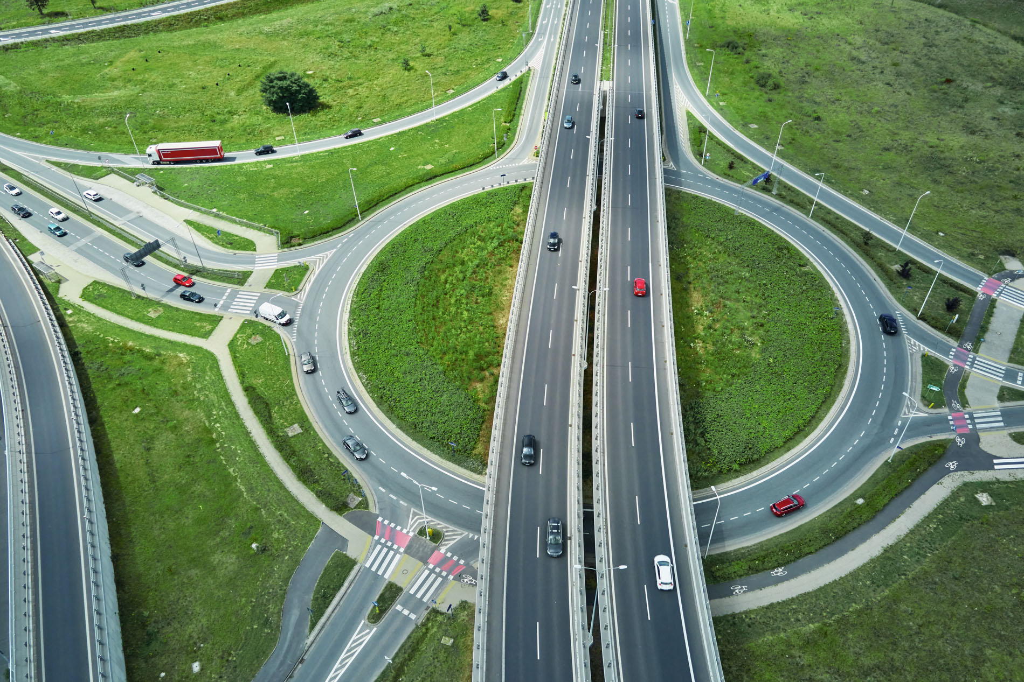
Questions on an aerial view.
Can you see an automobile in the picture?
Yes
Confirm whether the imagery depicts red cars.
Yes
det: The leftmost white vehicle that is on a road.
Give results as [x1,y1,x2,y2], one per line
[2,182,19,194]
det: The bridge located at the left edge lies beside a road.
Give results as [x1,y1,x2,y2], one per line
[0,225,125,682]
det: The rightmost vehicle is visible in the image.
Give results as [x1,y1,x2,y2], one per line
[879,313,900,333]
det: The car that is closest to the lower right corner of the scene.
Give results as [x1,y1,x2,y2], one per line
[770,495,807,516]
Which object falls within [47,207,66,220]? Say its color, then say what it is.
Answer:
white vehicle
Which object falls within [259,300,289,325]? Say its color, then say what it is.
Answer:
white vehicle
